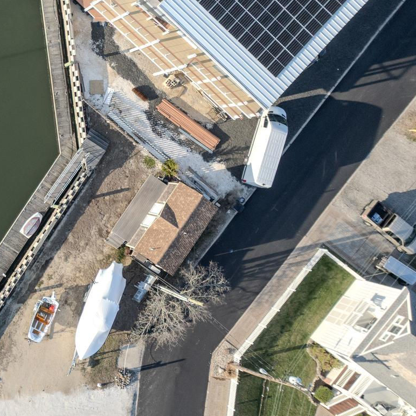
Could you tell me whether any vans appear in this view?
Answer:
Yes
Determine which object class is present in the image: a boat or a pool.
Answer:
boat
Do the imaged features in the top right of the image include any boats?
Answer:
No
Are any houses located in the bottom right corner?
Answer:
Yes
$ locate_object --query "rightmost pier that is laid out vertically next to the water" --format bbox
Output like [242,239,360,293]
[40,0,77,153]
